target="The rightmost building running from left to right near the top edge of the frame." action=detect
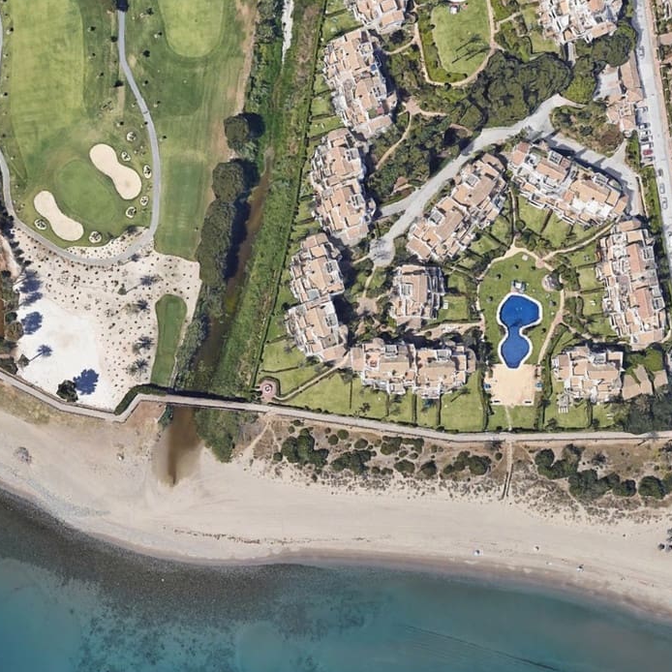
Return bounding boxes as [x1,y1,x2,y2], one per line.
[538,0,629,45]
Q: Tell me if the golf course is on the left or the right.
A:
left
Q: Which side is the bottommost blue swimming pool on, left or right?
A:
right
